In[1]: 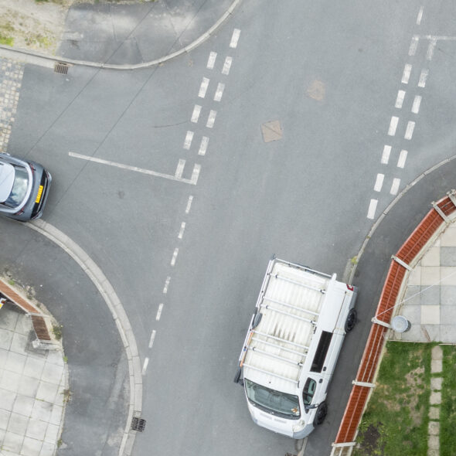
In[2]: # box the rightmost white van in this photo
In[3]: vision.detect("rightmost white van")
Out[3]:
[241,260,360,439]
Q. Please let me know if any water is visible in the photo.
No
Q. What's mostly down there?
paved ground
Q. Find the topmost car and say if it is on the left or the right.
left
